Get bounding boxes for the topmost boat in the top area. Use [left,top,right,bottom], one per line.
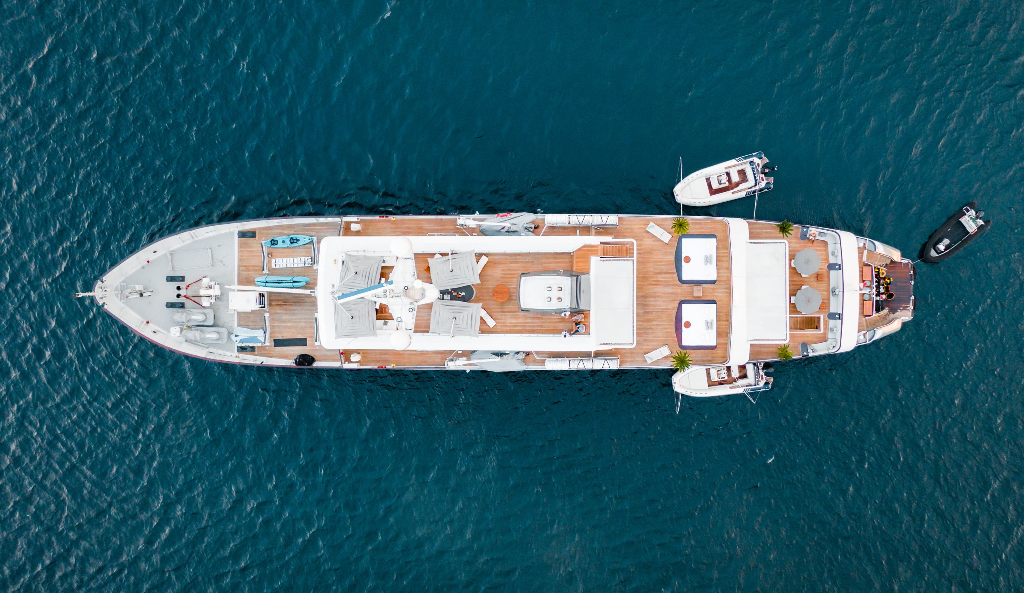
[674,152,775,205]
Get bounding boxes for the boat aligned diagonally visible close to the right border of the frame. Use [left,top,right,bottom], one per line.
[925,203,990,263]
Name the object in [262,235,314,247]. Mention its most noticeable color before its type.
blue boat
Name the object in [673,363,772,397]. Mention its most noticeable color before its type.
white boat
